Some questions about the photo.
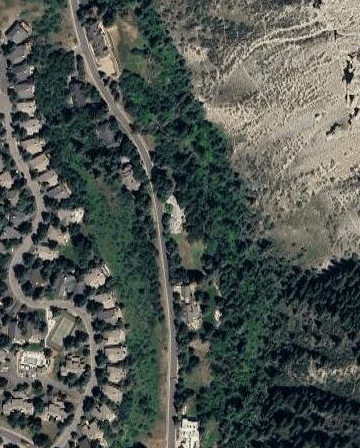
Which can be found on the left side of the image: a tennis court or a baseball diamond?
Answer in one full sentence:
The feature located on the left side of the image is a tennis court.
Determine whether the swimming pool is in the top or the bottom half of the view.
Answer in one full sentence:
The swimming pool is in the bottom half of the image.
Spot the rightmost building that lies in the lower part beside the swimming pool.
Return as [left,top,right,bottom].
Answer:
[60,357,85,380]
